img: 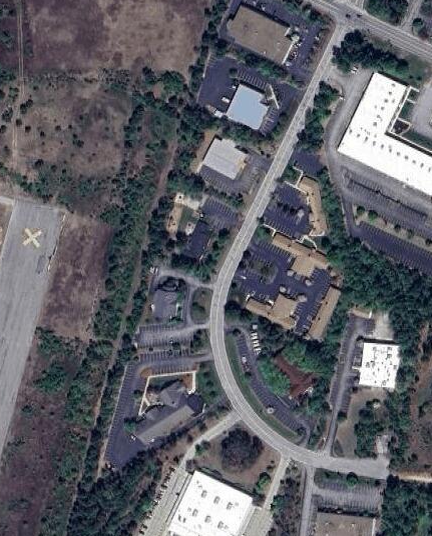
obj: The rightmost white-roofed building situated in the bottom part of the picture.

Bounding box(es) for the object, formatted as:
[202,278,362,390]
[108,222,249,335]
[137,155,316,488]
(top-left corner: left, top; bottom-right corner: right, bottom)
[359,343,400,389]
